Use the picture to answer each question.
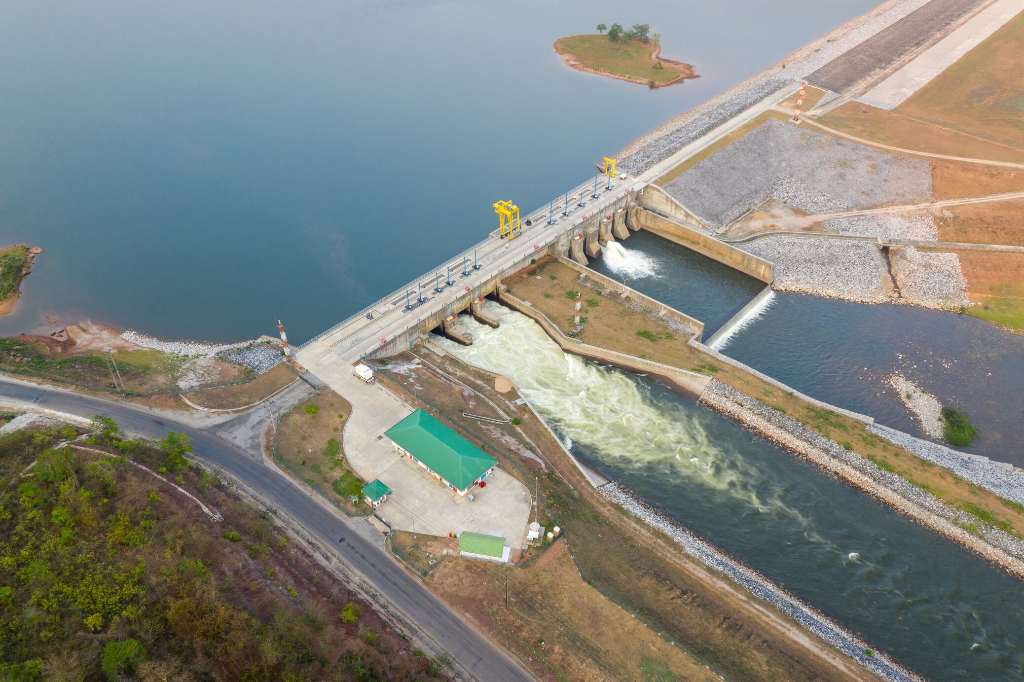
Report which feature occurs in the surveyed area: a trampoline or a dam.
dam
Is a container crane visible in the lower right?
No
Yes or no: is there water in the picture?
Yes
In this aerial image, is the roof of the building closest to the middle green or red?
green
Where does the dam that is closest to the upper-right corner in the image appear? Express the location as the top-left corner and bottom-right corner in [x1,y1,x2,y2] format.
[704,284,781,351]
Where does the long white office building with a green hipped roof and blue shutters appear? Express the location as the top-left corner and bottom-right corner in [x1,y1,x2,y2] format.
[383,409,498,500]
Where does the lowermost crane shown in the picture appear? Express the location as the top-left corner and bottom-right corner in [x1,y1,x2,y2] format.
[494,197,523,240]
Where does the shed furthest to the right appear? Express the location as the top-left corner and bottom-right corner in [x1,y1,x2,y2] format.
[457,531,514,570]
